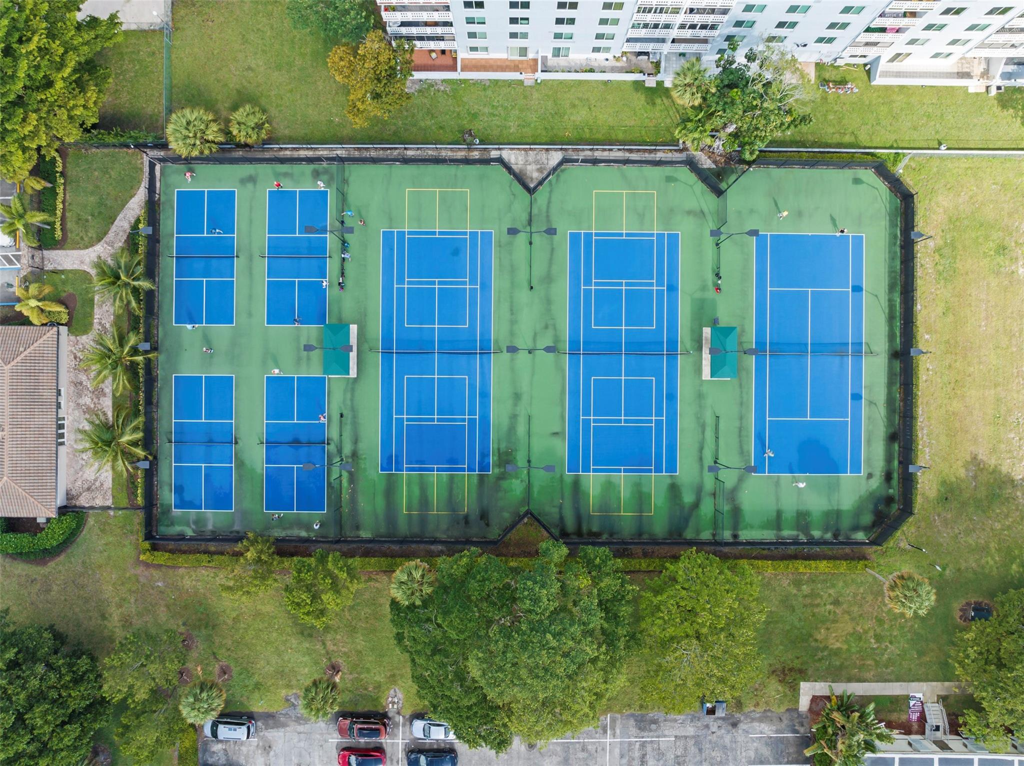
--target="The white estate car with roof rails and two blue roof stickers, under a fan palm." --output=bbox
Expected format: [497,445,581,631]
[203,717,255,744]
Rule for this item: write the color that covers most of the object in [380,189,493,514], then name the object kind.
blue tennis court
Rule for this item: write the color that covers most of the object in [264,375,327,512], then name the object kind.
blue sports court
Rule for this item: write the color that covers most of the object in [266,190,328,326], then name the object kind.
blue sports court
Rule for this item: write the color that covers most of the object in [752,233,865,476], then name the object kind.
blue tennis court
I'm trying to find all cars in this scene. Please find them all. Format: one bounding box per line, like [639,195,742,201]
[406,749,455,766]
[408,719,455,745]
[337,747,385,766]
[0,228,14,248]
[203,717,255,744]
[337,718,388,745]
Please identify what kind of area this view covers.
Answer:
sports ground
